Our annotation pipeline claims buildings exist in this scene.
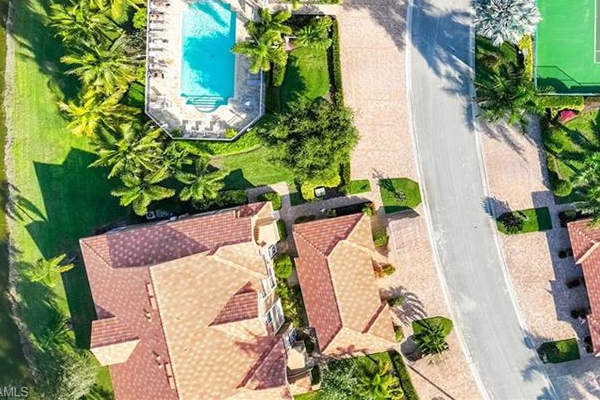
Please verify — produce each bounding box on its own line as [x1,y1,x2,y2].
[290,213,399,356]
[78,196,317,400]
[567,218,600,356]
